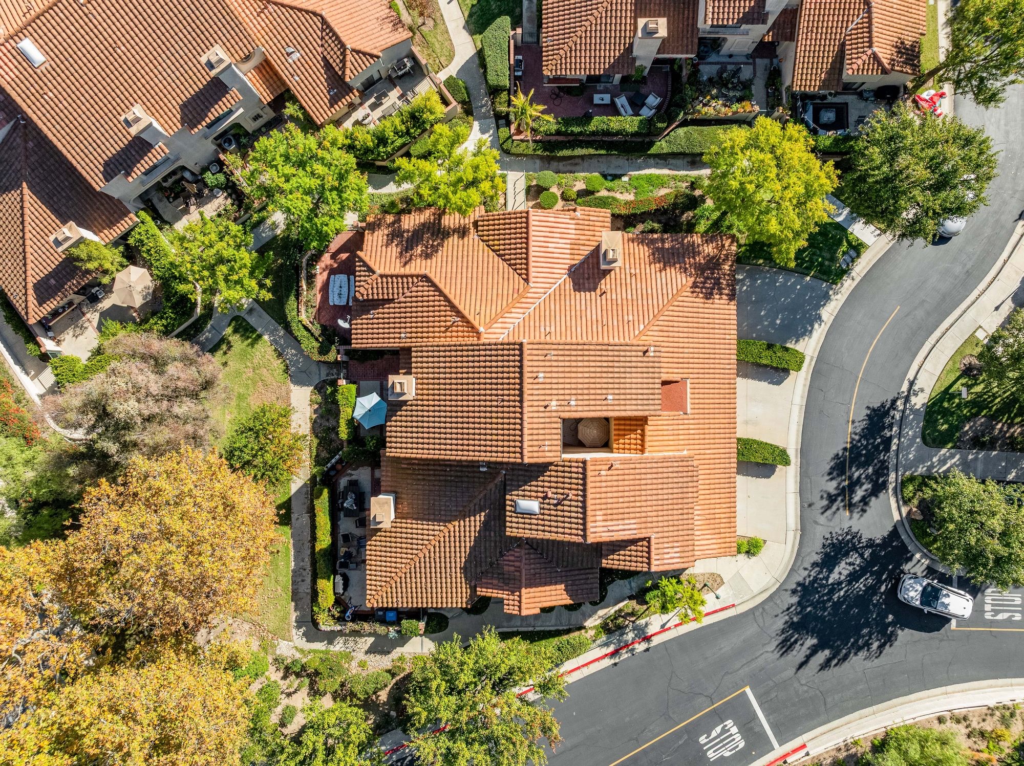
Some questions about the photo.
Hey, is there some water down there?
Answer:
No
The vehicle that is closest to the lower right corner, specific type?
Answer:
automobile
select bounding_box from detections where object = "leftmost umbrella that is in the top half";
[115,267,161,308]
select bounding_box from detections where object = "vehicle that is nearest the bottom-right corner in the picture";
[892,572,977,621]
